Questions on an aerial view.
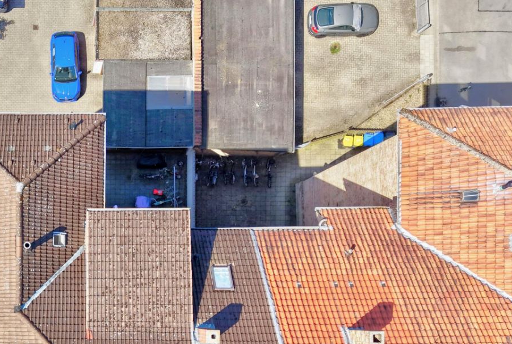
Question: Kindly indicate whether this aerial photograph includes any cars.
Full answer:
Yes, there is a car in the image.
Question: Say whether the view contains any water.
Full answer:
No, the scene doesn't show any water.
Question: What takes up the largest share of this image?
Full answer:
The scene is dominated by buildings.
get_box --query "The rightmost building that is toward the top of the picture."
[196,0,296,158]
